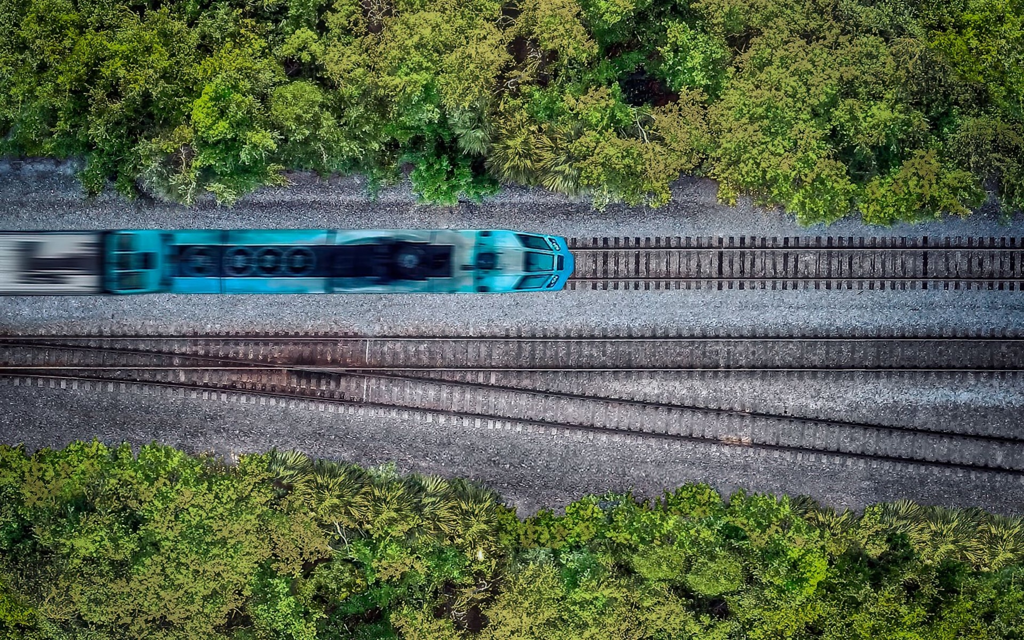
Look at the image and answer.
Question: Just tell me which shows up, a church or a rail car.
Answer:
rail car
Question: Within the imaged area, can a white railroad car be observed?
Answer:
No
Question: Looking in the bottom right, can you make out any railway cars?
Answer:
No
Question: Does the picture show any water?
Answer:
No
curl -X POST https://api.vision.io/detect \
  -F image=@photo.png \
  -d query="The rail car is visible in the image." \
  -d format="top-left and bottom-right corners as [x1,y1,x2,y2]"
[103,231,574,294]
